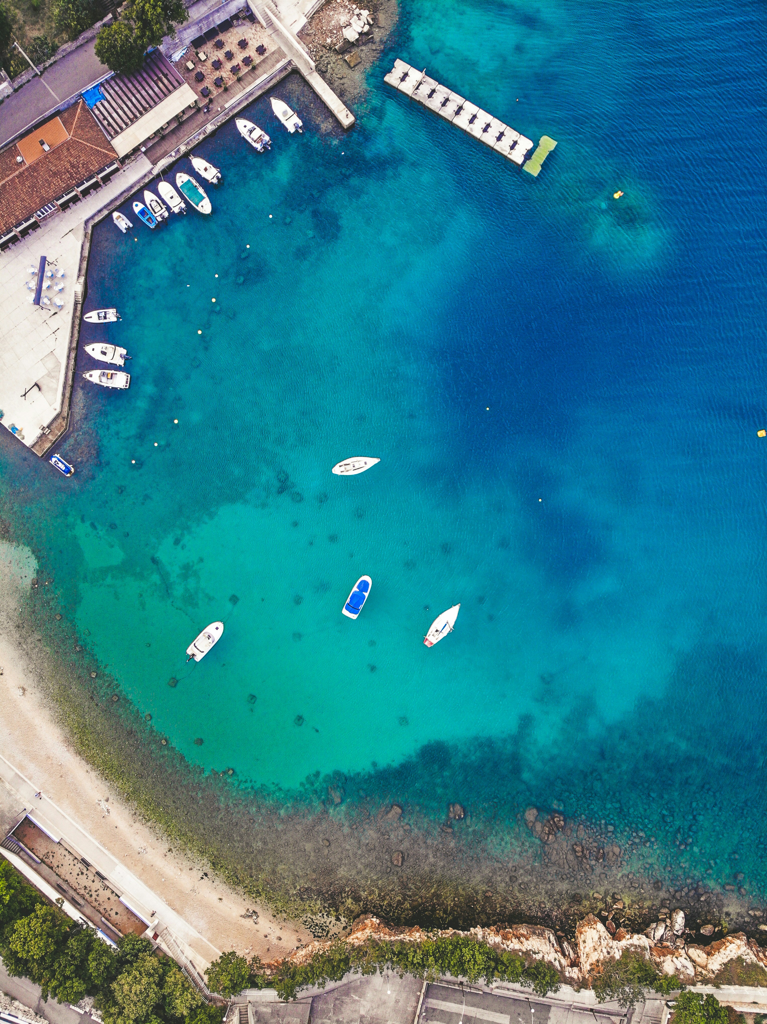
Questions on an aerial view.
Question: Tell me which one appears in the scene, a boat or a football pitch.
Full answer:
There is a boat in the scene.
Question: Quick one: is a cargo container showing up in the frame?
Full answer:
No, the photo shows no cargo container.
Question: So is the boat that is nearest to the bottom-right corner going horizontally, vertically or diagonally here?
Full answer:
In this picture, the boat that is nearest to the bottom-right corner is oriented diagonally.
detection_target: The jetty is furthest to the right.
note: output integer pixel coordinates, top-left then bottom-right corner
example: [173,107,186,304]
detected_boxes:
[385,60,532,165]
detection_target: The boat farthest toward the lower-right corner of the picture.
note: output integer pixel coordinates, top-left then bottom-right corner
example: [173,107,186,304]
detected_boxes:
[424,604,460,646]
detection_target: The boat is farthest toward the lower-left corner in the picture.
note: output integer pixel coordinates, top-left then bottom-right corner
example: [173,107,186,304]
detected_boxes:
[186,622,223,662]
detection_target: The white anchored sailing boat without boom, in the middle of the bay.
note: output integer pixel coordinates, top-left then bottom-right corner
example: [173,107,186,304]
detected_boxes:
[332,457,379,477]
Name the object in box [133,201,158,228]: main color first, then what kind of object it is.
blue boat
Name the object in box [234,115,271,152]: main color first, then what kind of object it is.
white boat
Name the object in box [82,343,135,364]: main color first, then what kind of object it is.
white boat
